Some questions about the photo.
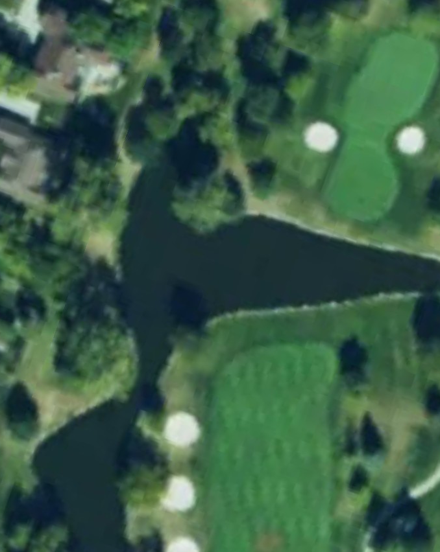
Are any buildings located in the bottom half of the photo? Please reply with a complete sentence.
No, no building can be made out in the bottom half of the photo.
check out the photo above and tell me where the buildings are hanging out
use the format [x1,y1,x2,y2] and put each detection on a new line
[0,113,54,212]
[29,9,112,100]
